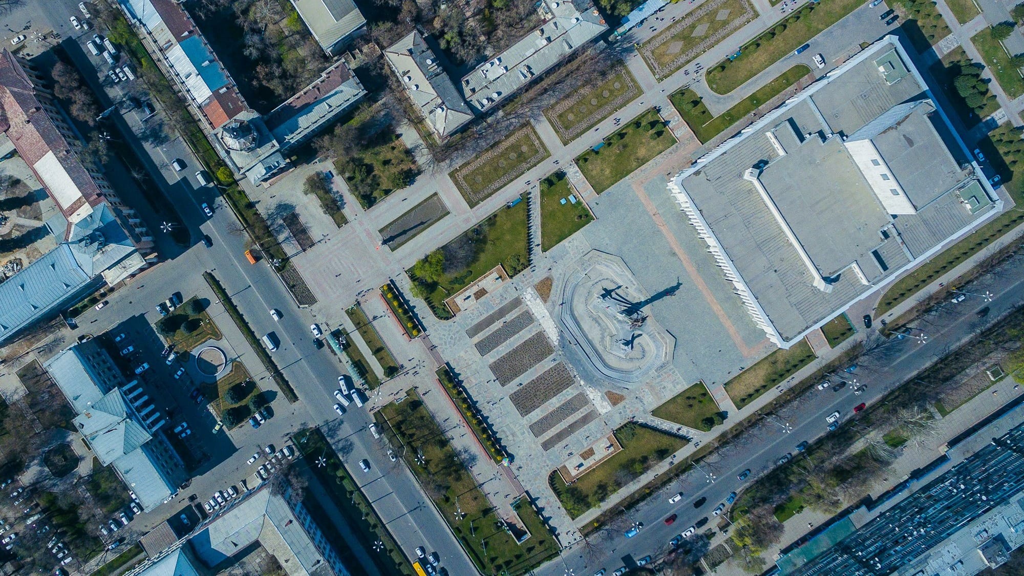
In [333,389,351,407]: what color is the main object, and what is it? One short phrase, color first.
white vehicle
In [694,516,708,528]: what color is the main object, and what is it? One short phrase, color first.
black vehicle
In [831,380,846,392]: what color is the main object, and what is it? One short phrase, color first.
black vehicle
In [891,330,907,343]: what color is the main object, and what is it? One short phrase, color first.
blue vehicle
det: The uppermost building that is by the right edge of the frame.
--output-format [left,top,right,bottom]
[650,36,1002,348]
